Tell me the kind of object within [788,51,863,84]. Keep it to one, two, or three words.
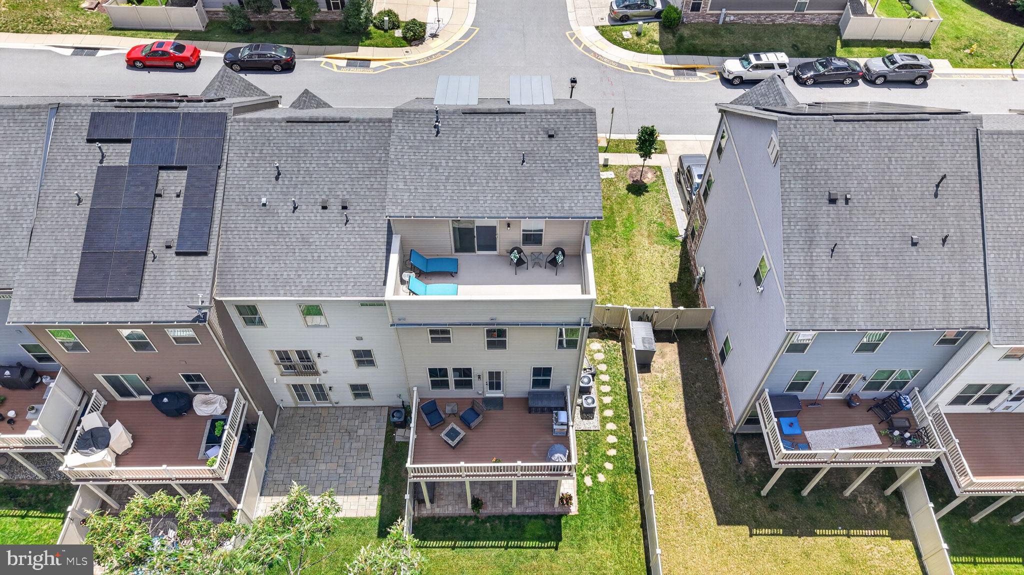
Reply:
car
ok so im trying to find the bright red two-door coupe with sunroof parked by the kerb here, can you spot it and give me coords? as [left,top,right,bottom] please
[131,37,210,68]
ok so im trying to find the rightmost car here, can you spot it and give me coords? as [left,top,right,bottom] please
[856,46,935,84]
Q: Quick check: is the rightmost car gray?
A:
Yes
